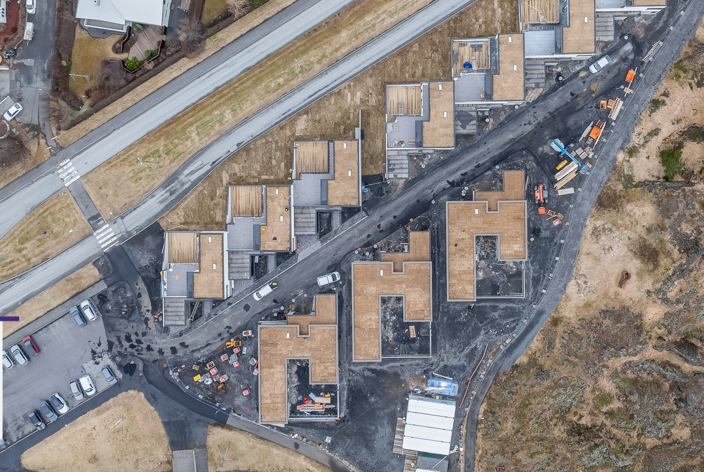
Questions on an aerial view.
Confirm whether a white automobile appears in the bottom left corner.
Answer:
Yes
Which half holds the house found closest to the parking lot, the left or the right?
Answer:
left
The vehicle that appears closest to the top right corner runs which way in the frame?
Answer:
on a diagonal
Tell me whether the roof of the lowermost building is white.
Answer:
Yes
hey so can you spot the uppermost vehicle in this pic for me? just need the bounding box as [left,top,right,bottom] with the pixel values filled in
[24,0,38,15]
